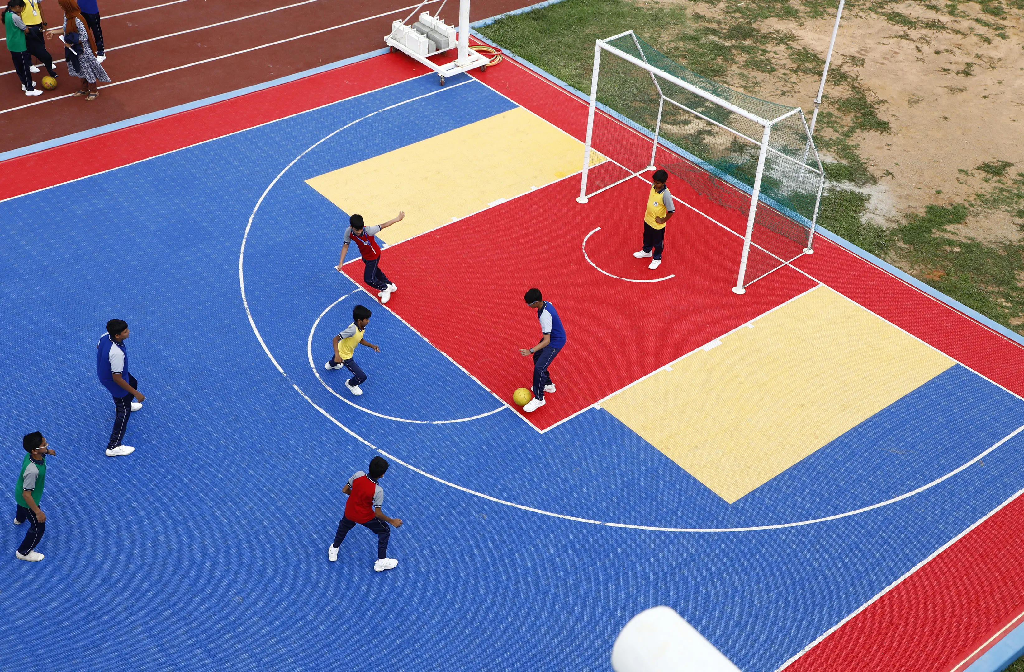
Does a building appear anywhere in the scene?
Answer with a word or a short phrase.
No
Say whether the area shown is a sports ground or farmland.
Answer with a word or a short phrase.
sports ground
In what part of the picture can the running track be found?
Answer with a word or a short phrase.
top left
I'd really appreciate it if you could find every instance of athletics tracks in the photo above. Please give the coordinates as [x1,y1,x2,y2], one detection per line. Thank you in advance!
[0,0,534,150]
